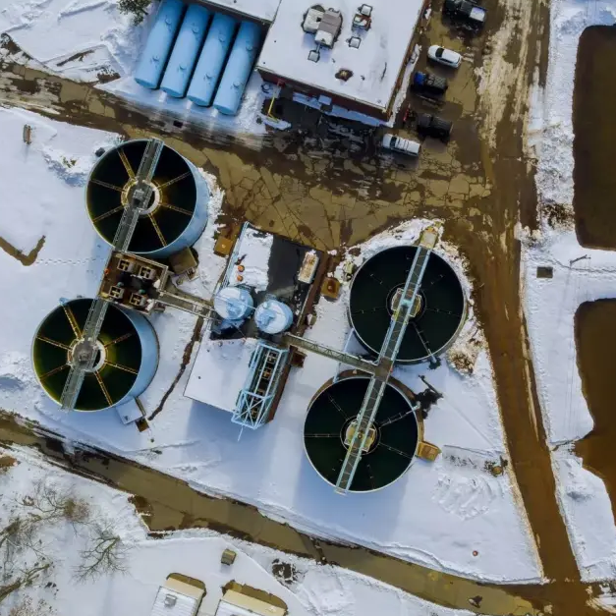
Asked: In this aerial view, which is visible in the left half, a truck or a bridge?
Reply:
bridge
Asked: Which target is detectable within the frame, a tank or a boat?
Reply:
tank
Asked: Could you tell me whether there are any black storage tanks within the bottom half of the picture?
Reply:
Yes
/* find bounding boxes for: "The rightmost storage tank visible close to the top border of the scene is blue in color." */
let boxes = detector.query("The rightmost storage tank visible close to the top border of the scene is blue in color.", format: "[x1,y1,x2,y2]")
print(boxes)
[215,17,263,127]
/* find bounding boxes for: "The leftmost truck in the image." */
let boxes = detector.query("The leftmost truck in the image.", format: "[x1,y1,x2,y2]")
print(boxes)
[382,135,421,158]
